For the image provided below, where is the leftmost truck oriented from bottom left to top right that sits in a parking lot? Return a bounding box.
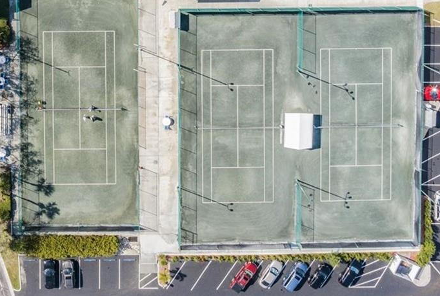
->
[229,261,255,294]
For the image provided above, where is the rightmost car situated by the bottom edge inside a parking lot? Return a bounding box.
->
[338,257,364,289]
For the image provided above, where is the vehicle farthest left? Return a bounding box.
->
[40,259,57,291]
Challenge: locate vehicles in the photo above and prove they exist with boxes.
[308,261,332,290]
[338,257,364,289]
[434,190,440,222]
[40,259,57,291]
[257,261,283,291]
[282,261,308,294]
[229,261,255,294]
[61,259,75,291]
[425,86,440,102]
